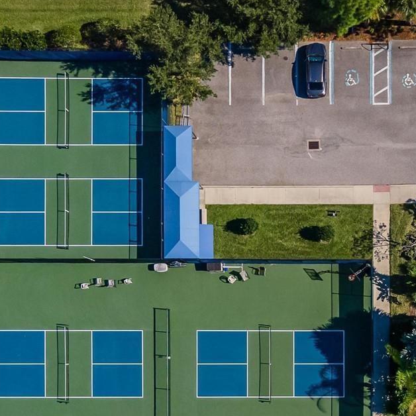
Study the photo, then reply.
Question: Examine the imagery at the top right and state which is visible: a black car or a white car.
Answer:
black car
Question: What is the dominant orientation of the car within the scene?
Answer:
vertically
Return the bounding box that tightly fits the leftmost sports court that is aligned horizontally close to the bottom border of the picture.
[0,330,143,398]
